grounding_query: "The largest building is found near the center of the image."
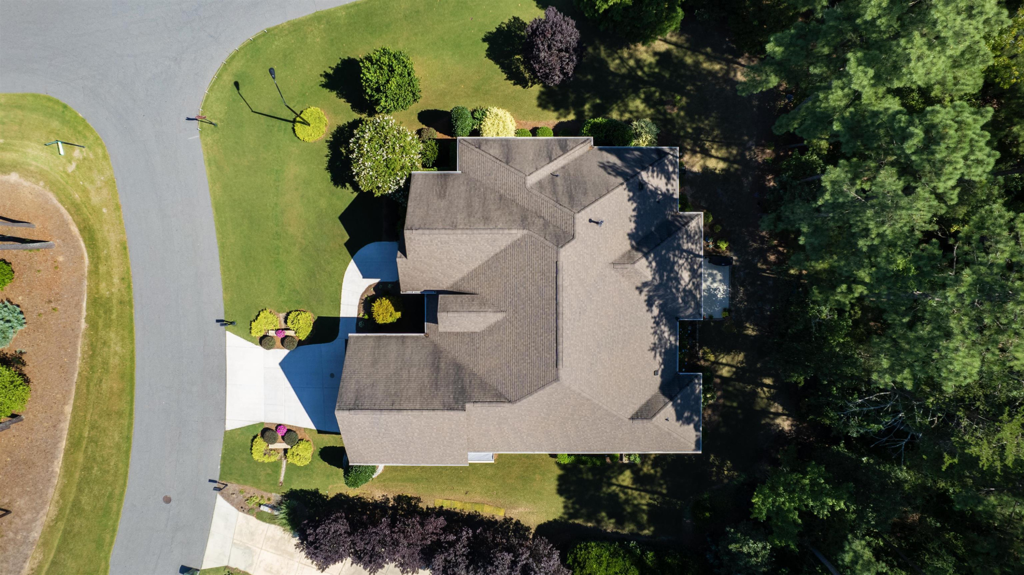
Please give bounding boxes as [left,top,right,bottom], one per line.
[335,135,706,468]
